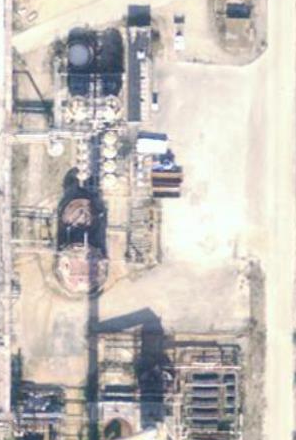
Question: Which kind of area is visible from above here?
industrial area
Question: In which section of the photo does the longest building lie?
top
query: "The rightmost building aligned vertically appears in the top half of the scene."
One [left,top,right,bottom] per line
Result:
[128,24,149,121]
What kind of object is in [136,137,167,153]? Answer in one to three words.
shed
